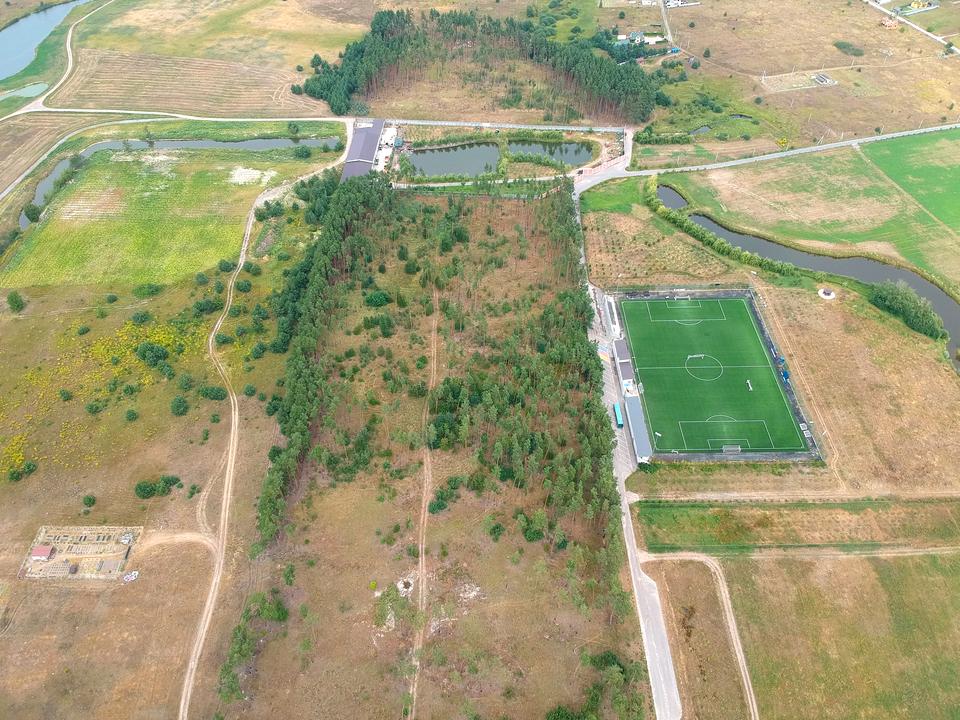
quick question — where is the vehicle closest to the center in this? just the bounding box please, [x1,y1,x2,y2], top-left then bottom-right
[610,400,624,428]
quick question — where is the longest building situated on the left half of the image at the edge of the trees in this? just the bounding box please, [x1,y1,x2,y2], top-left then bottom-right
[340,118,384,194]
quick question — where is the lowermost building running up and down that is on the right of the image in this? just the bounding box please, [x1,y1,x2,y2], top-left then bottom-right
[623,392,655,466]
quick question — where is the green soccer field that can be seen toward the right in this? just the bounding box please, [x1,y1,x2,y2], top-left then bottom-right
[614,291,822,462]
